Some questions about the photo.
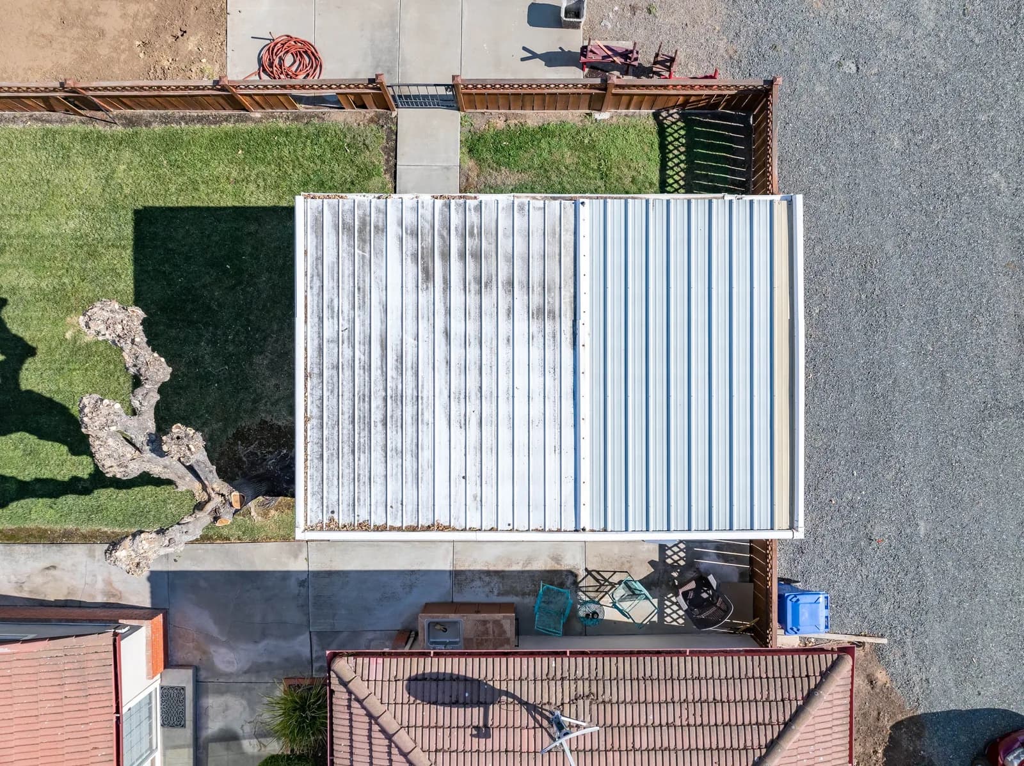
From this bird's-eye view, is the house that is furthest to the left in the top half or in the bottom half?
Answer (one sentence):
You can find the house that is furthest to the left in the bottom half.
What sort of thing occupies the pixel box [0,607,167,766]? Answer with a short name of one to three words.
house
